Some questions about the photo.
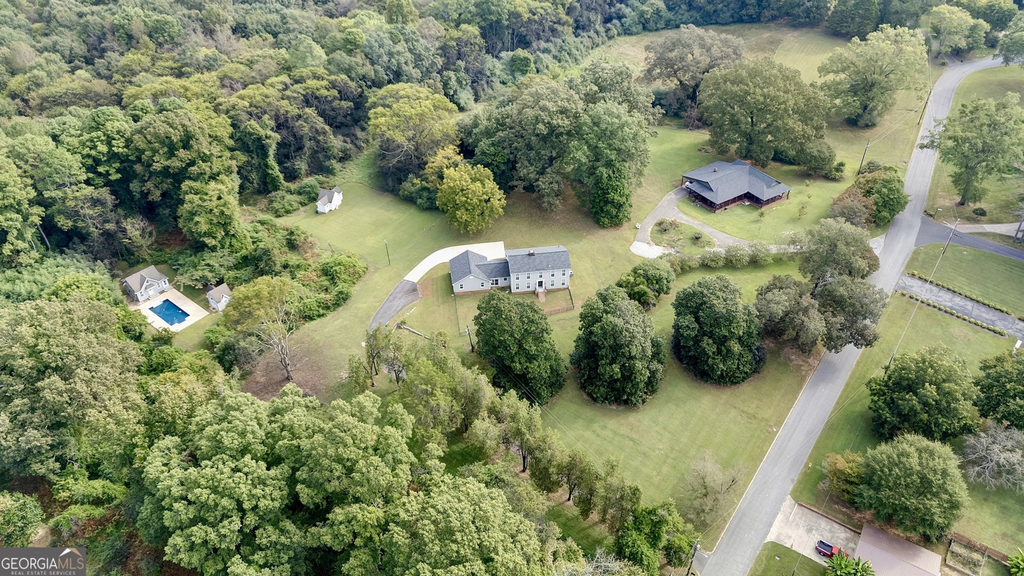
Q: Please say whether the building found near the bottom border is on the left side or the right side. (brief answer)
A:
right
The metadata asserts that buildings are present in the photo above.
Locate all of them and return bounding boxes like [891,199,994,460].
[451,247,574,302]
[314,188,345,213]
[849,523,942,576]
[205,281,238,312]
[678,159,792,213]
[121,263,174,302]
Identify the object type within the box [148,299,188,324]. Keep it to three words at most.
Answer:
swimming pool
